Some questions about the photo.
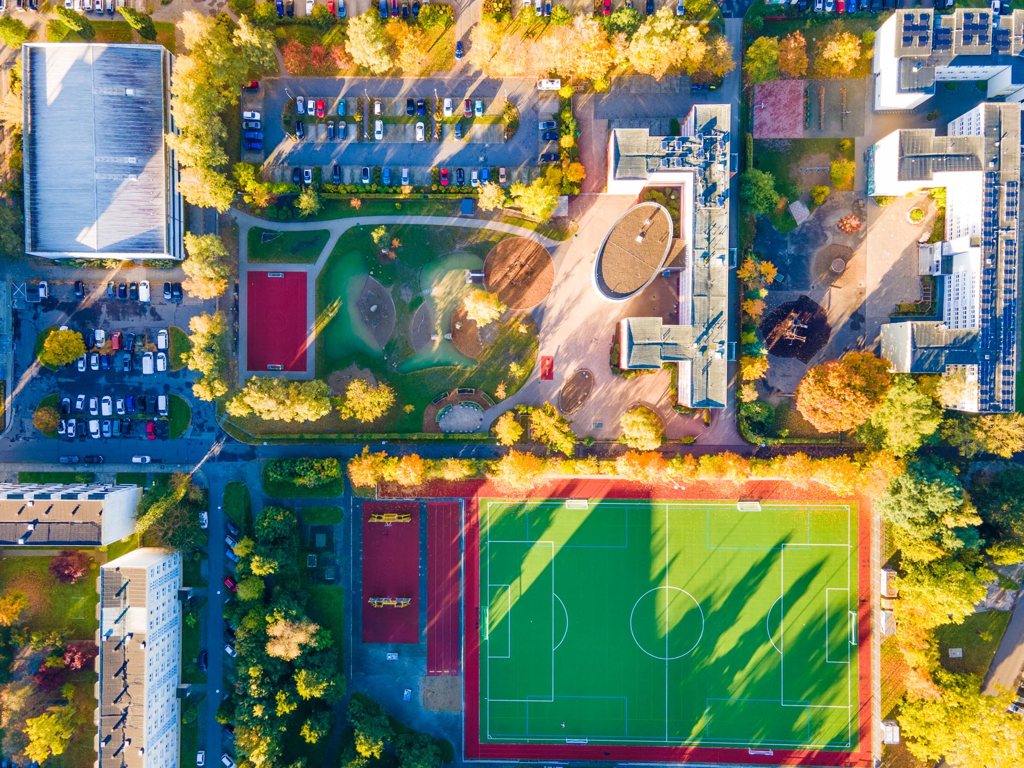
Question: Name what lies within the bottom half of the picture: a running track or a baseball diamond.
running track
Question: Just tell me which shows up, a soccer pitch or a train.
soccer pitch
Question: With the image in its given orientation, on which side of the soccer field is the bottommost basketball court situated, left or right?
on its left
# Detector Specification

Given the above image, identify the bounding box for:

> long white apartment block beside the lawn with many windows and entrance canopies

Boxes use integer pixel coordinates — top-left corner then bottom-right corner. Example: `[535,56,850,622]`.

[97,549,191,768]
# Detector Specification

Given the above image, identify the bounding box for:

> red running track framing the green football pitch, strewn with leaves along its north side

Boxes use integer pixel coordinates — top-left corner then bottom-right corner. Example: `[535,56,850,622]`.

[377,478,873,765]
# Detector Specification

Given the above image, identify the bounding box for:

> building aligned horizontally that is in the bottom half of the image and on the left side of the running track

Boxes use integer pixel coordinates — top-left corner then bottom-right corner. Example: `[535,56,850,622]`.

[0,482,142,545]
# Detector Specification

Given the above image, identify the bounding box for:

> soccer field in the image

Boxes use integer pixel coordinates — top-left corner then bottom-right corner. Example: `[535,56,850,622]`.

[479,499,859,752]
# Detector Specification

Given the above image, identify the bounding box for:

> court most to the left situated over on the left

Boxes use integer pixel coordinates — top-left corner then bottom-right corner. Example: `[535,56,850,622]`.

[247,272,308,371]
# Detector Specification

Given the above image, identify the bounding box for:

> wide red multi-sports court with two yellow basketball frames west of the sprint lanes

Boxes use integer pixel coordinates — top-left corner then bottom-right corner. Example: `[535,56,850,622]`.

[363,502,419,643]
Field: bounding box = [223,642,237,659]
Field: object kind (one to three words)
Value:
car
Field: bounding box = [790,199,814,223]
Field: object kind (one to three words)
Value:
shed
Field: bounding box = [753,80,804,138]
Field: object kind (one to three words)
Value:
sports court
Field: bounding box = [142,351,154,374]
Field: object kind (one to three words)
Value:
vehicle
